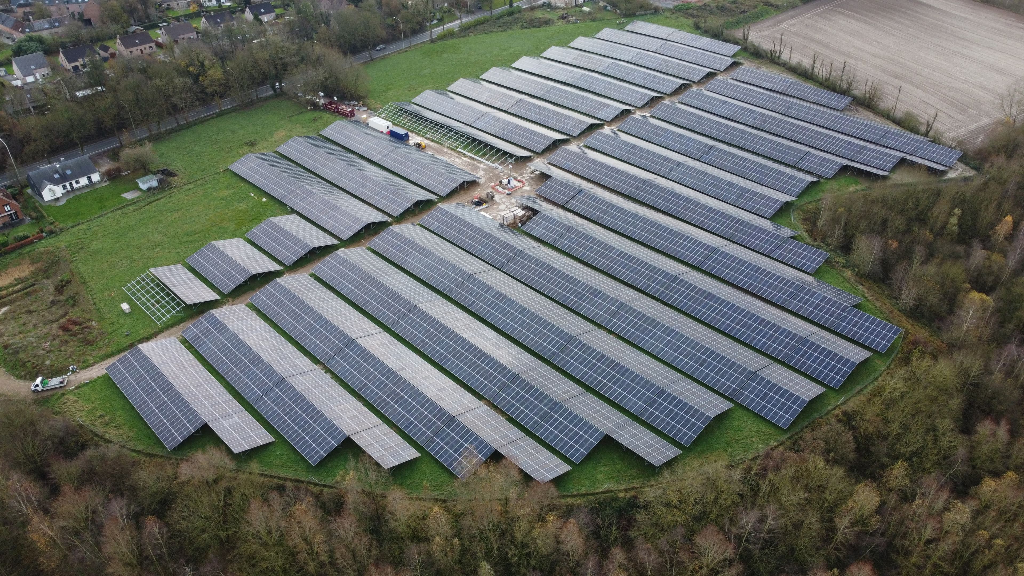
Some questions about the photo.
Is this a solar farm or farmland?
solar farm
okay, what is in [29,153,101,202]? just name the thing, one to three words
house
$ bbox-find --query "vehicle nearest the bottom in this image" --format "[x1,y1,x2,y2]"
[26,376,70,393]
